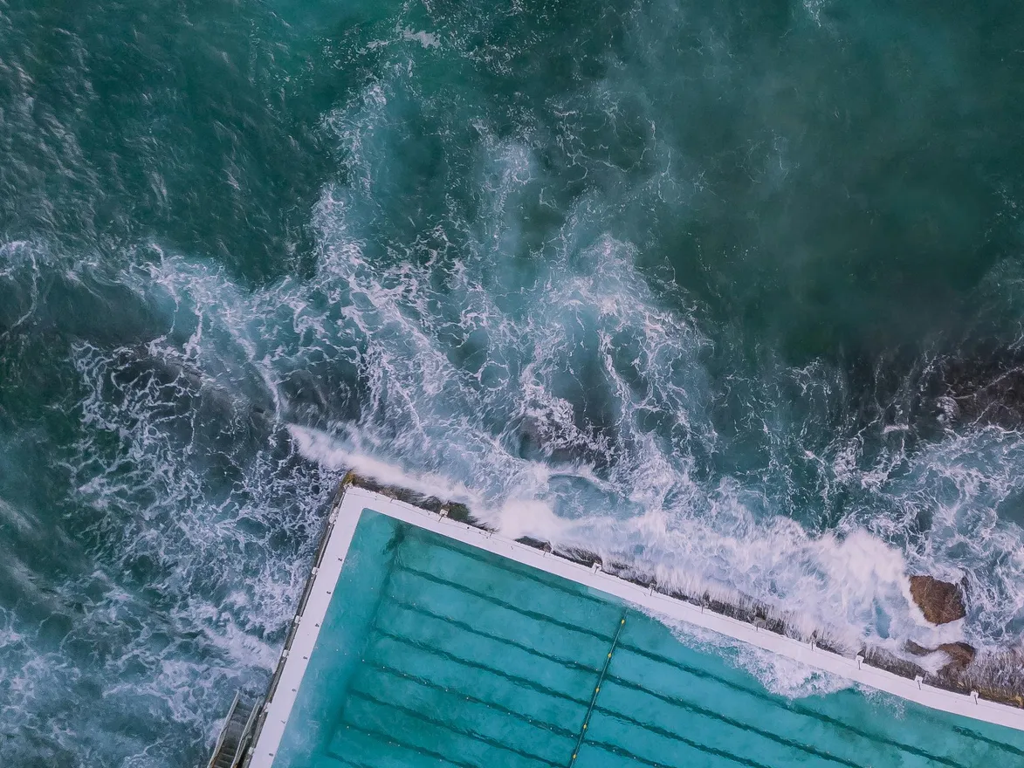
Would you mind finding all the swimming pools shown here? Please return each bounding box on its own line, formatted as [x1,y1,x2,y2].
[272,511,1024,768]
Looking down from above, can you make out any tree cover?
No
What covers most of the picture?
water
